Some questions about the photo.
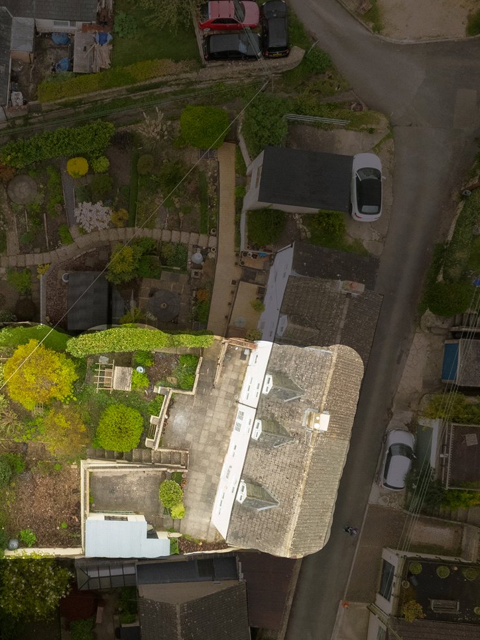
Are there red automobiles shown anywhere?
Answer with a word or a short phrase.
Yes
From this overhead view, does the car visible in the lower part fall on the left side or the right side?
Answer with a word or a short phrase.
right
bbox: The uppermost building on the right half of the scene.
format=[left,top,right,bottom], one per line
[247,145,355,215]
